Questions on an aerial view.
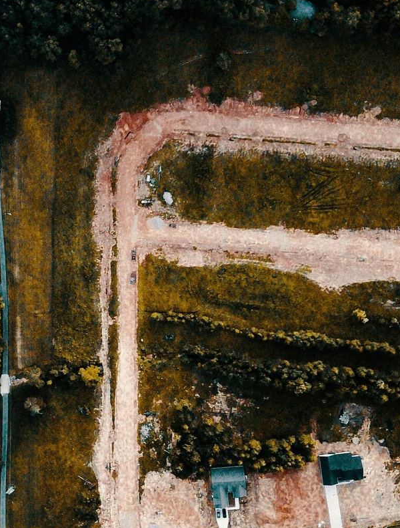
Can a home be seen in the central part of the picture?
No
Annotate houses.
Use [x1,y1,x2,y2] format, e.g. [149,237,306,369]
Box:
[210,464,248,510]
[319,453,364,485]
